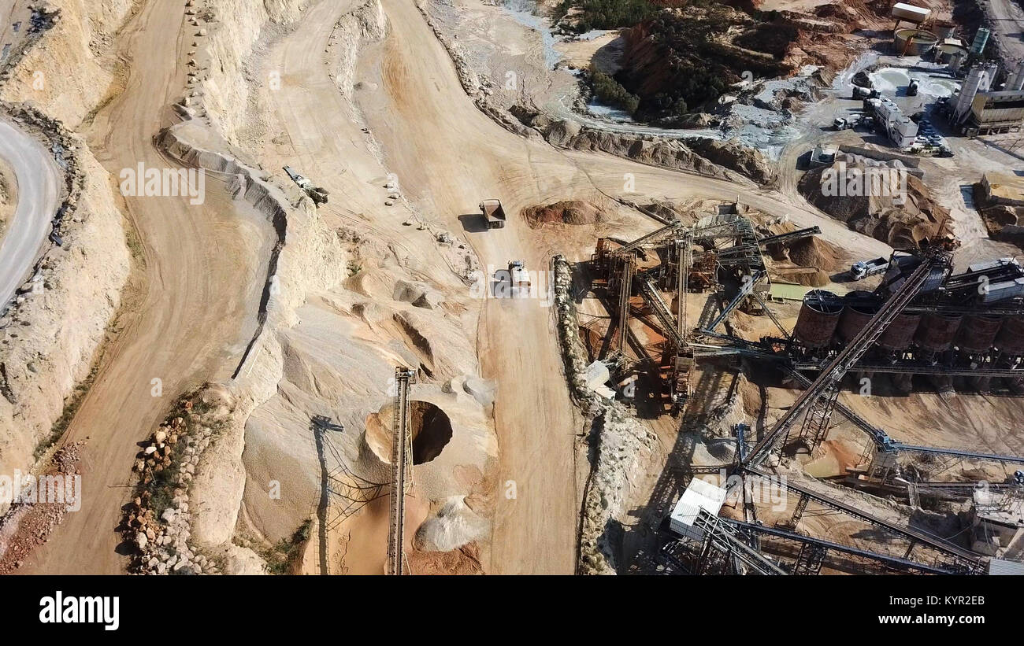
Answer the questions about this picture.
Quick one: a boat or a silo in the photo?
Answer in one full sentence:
It is a silo that can be seen here.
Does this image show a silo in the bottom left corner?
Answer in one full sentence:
No, no silo can be made out in the bottom left corner.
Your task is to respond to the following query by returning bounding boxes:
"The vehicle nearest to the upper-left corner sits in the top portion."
[482,194,508,231]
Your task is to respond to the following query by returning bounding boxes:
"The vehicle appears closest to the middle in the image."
[508,256,530,295]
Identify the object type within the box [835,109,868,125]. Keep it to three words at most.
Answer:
vehicle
